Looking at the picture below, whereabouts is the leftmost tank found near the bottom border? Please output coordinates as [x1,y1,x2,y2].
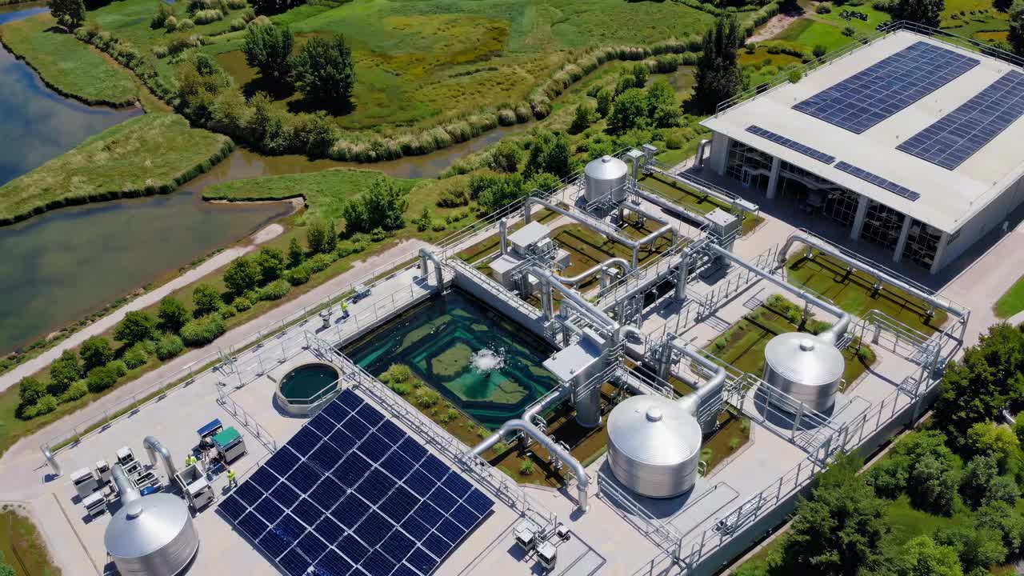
[99,492,206,576]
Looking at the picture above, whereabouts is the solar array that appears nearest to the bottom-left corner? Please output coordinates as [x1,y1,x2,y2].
[218,390,494,576]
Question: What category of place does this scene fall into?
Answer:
industrial area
